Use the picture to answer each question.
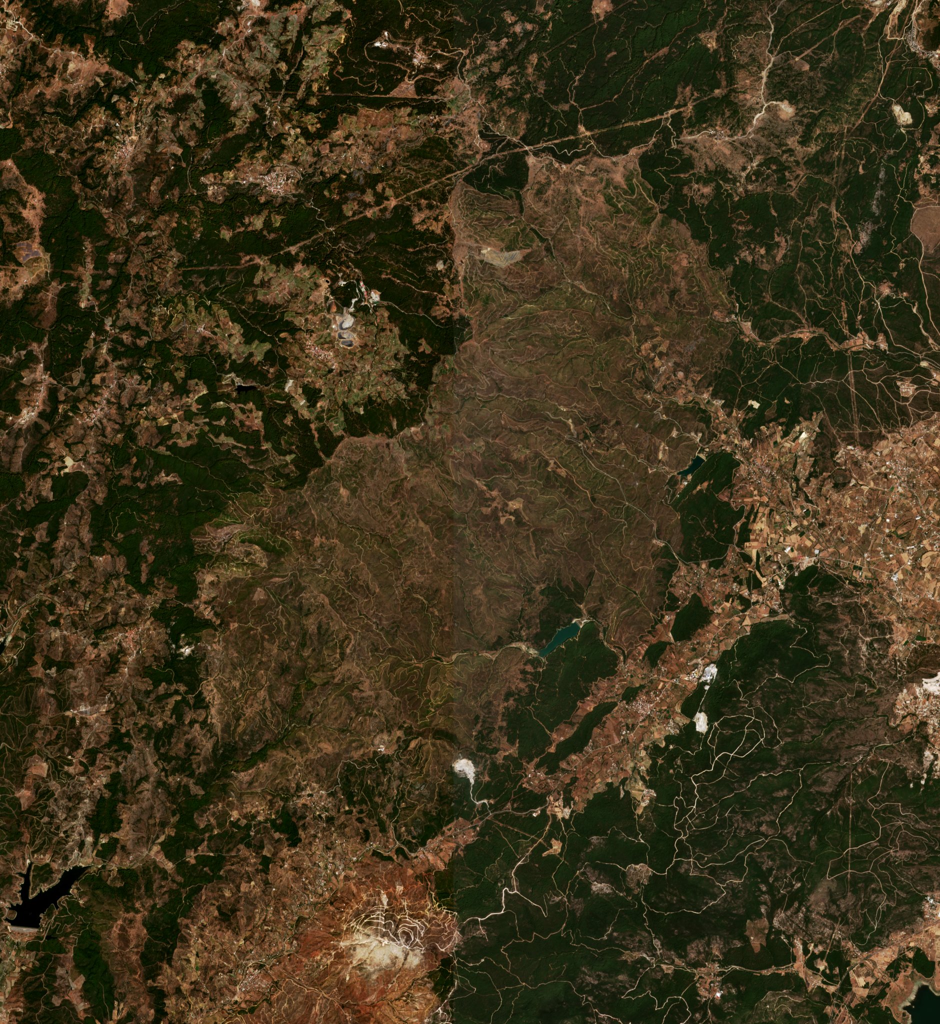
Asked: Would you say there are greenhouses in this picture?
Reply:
No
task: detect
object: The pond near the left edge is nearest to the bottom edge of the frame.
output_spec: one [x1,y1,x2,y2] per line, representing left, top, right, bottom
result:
[6,863,93,928]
